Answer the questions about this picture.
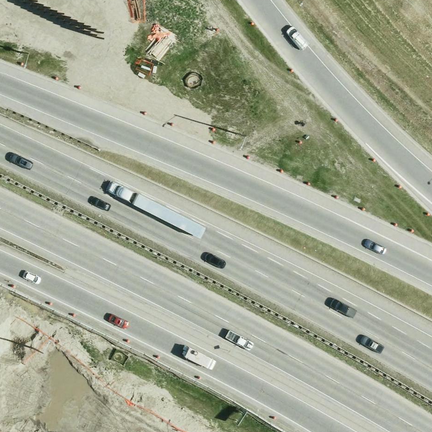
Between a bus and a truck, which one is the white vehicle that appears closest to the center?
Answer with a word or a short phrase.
truck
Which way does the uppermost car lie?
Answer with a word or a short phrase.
on a diagonal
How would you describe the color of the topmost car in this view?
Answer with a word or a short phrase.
white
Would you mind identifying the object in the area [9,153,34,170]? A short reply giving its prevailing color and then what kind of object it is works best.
gray car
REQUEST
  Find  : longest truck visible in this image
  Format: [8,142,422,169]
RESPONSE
[105,182,206,238]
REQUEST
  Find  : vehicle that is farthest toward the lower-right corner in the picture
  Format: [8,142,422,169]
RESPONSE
[359,336,386,355]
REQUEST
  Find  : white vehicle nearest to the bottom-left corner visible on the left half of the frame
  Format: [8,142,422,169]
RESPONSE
[22,270,43,285]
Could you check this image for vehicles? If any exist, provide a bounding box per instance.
[182,345,217,368]
[328,298,357,319]
[364,239,387,256]
[359,336,386,355]
[287,28,308,49]
[105,182,206,238]
[108,314,129,329]
[9,153,34,170]
[90,196,112,211]
[204,252,227,270]
[22,270,43,285]
[227,331,256,352]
